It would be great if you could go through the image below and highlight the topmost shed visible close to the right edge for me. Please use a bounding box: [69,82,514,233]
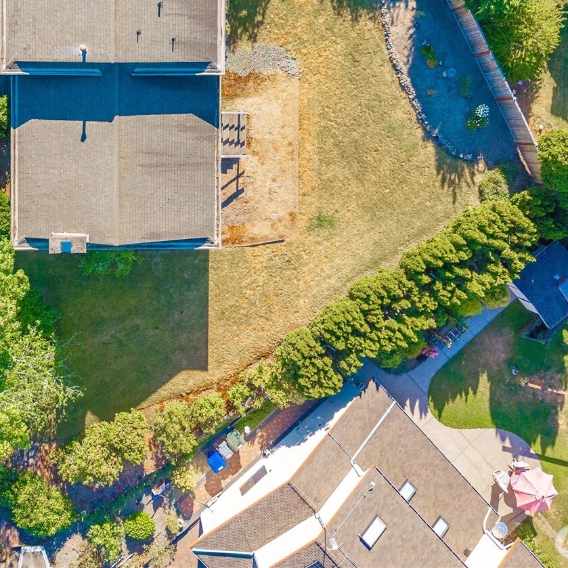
[507,241,568,329]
